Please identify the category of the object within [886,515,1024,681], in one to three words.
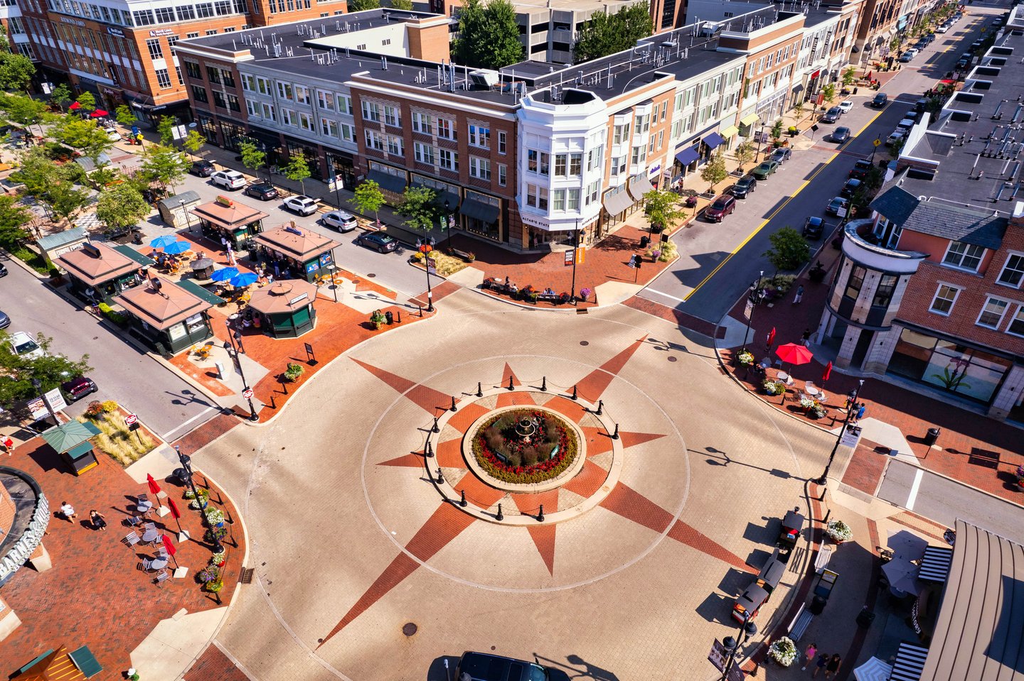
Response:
building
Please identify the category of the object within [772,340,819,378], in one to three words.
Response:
umbrella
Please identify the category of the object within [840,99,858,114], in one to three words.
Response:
car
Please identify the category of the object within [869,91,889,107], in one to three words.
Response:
car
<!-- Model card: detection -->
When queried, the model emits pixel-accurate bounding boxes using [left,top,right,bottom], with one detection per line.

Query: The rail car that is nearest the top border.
[771,537,796,569]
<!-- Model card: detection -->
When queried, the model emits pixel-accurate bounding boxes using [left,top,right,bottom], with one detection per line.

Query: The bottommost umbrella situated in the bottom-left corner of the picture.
[167,542,192,581]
